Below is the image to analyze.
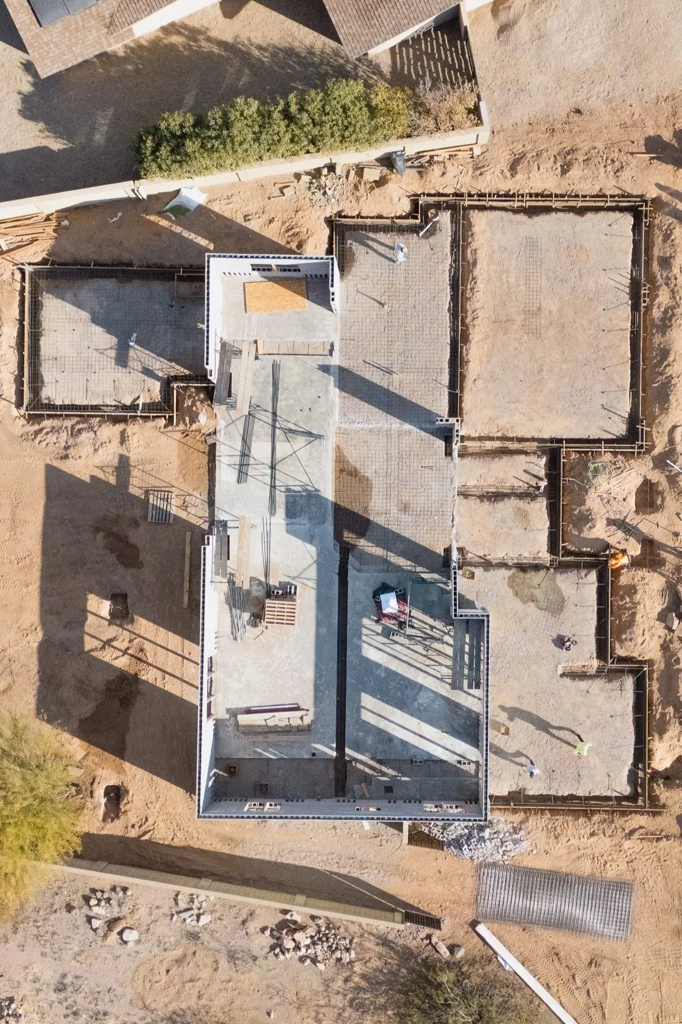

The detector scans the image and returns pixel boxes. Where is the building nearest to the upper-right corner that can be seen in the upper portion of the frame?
[324,0,470,72]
